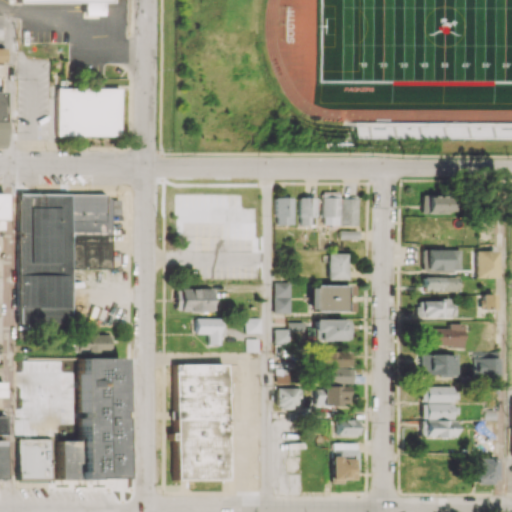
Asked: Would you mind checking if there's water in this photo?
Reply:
No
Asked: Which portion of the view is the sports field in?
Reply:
top right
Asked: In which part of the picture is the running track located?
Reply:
top right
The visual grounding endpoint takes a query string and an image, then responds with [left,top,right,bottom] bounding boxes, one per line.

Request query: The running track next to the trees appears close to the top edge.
[266,0,512,121]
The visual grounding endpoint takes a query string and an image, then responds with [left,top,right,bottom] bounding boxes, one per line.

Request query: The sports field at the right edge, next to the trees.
[317,0,512,110]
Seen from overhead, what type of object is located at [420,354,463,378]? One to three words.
house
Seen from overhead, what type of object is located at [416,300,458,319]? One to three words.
house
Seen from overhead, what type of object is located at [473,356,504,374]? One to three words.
building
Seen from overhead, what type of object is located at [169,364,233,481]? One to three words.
building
